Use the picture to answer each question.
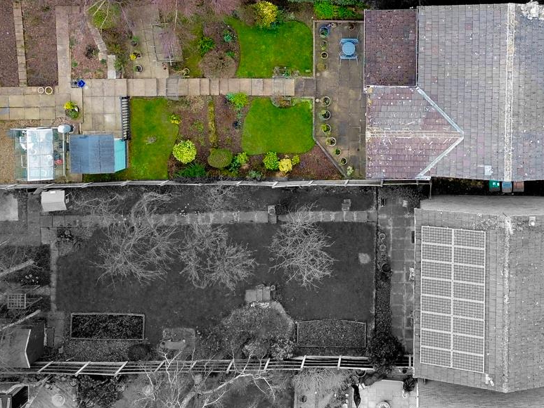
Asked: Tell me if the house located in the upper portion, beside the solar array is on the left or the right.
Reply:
right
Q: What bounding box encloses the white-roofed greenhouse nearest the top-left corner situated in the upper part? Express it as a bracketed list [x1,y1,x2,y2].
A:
[26,129,66,181]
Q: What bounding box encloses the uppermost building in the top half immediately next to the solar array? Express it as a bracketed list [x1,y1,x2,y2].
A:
[364,2,544,184]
